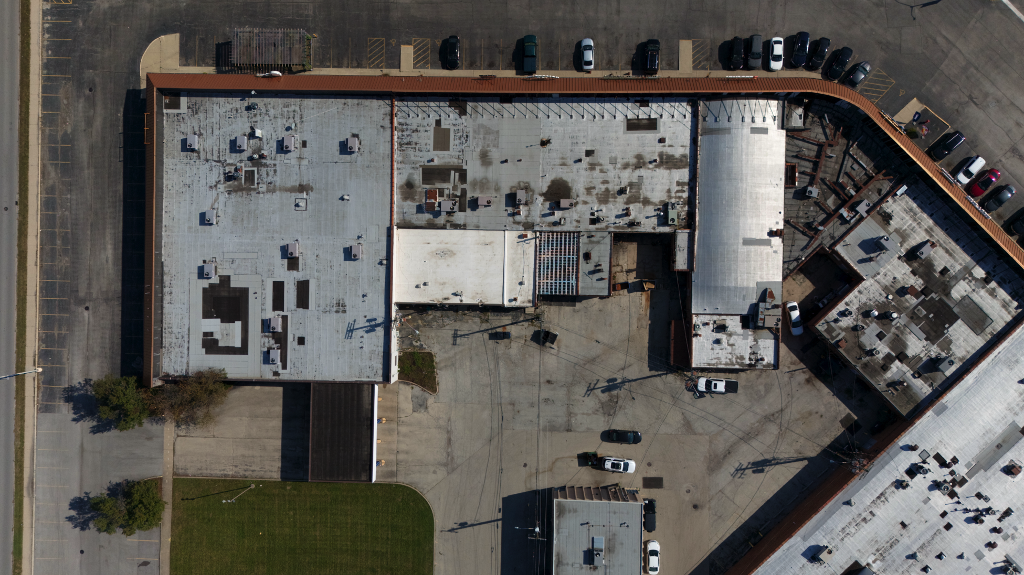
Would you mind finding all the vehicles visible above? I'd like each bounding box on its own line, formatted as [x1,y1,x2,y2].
[967,169,1001,199]
[789,31,810,69]
[783,300,802,335]
[728,37,746,71]
[806,37,830,72]
[642,497,658,533]
[930,131,965,163]
[645,40,661,75]
[696,377,738,394]
[1007,213,1024,241]
[644,538,661,574]
[601,455,636,474]
[606,428,641,444]
[826,46,852,82]
[521,35,538,76]
[982,184,1016,215]
[953,155,987,186]
[767,37,784,73]
[579,38,595,73]
[843,60,871,91]
[444,35,460,71]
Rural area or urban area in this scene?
urban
